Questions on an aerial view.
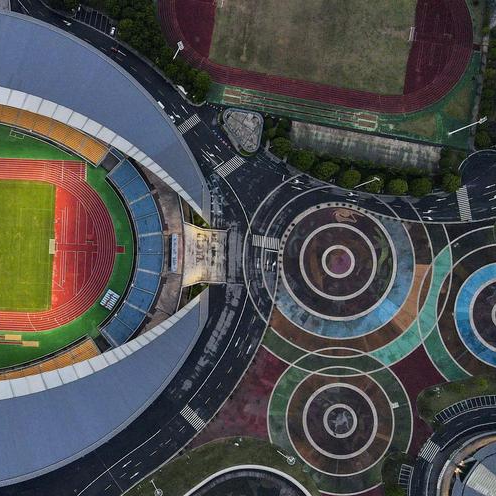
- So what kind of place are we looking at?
sports ground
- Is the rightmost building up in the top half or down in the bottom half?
bottom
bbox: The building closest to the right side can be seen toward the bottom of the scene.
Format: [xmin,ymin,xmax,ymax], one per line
[434,431,496,496]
